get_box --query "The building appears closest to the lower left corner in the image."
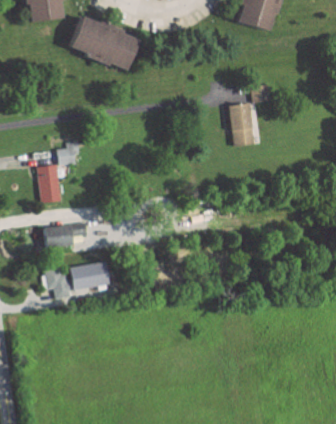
[42,273,71,301]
